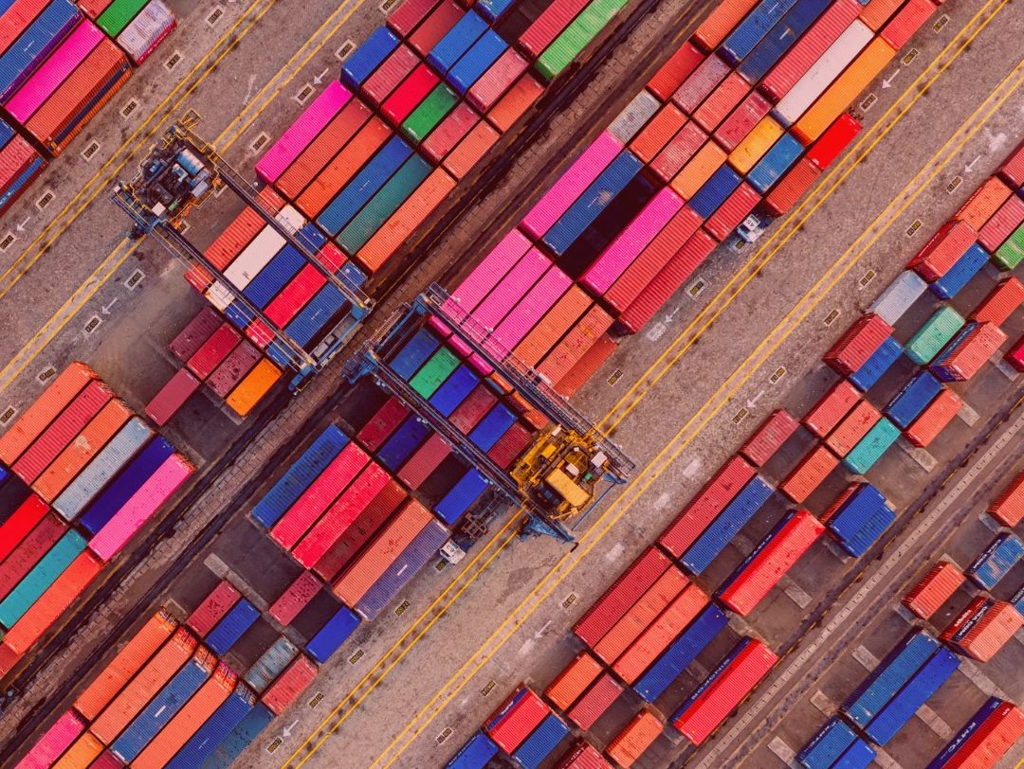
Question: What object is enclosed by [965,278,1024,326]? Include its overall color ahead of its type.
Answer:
red shipping container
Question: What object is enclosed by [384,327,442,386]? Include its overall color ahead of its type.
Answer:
blue shipping container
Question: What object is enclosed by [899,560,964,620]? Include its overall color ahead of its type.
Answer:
red shipping container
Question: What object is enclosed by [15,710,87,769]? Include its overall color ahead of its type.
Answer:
pink shipping container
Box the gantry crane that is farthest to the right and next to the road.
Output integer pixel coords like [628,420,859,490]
[339,269,642,553]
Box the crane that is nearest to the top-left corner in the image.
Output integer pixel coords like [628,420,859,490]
[100,100,380,397]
